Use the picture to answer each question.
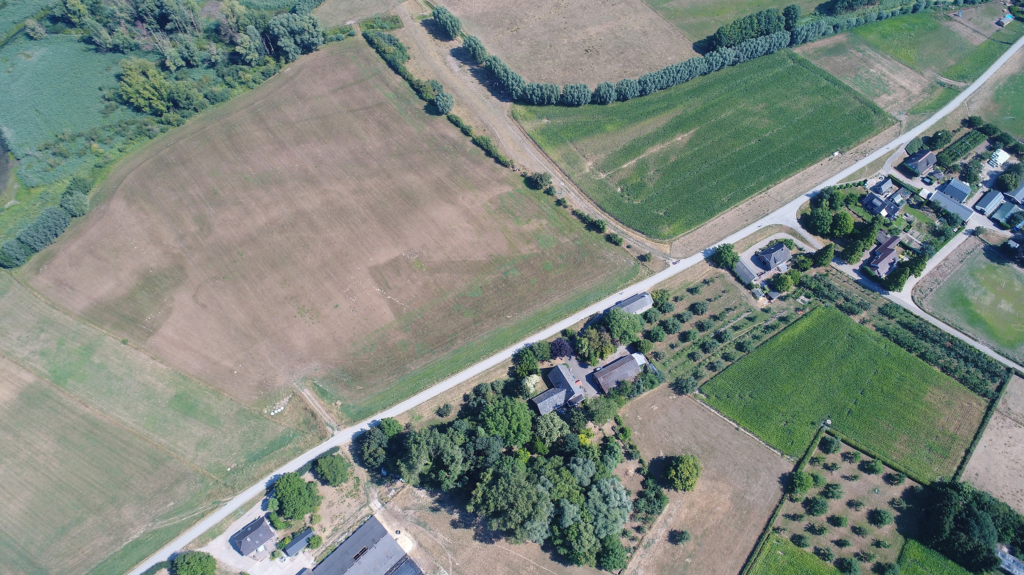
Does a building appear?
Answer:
Yes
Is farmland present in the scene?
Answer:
Yes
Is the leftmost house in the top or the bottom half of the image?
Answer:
bottom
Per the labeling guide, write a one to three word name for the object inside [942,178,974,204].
barn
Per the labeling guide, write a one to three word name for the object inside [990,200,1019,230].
shed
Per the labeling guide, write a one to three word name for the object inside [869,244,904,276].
house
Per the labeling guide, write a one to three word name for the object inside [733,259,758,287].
building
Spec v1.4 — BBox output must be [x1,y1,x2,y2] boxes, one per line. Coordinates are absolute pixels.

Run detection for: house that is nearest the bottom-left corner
[233,515,277,558]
